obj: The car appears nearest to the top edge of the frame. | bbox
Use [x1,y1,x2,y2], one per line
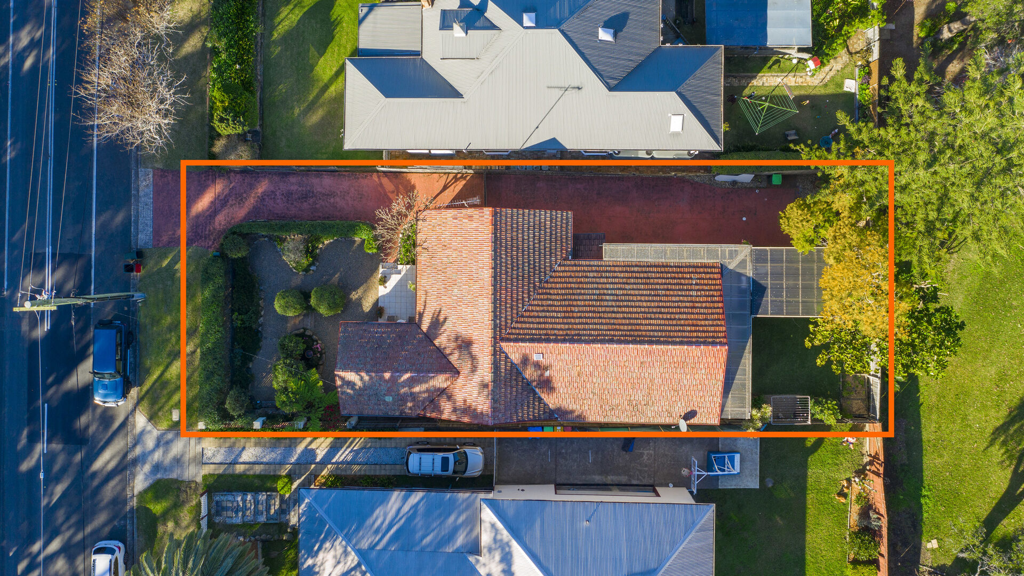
[91,322,137,405]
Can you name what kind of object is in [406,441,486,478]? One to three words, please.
car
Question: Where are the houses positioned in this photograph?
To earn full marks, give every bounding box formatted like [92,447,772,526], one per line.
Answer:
[335,206,730,426]
[298,479,716,576]
[344,0,724,151]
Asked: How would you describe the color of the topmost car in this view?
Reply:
blue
